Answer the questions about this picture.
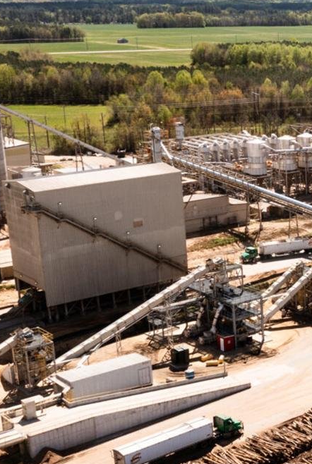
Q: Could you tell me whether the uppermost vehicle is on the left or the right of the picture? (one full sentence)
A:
The uppermost vehicle is on the right side of the image.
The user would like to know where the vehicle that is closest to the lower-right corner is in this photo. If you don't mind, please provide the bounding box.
[115,421,244,464]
